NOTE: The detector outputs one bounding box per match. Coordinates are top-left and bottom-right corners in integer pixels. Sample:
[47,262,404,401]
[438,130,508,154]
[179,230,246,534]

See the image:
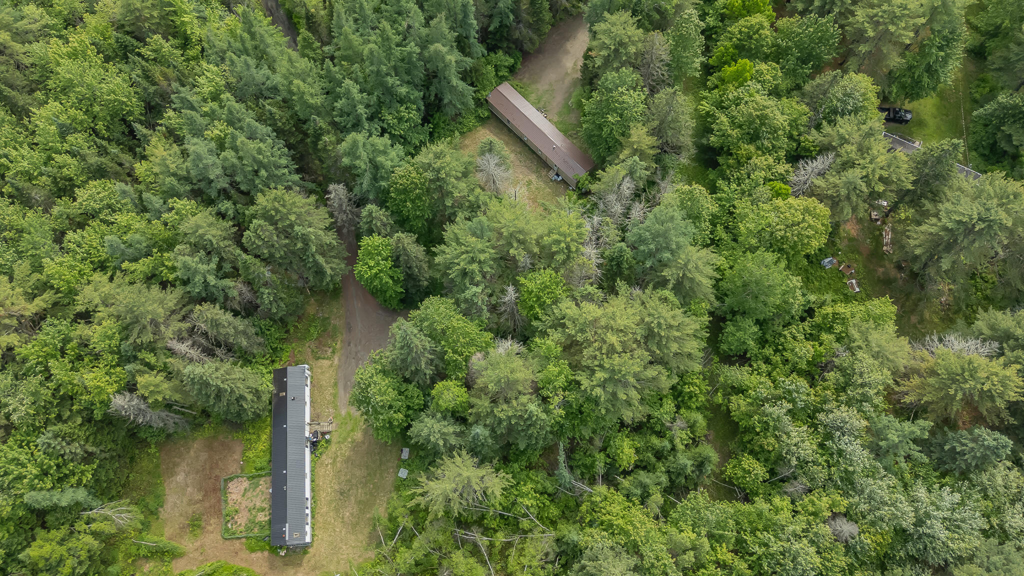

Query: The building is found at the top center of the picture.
[486,82,597,189]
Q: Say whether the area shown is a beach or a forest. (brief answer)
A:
forest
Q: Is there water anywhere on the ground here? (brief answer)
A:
No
